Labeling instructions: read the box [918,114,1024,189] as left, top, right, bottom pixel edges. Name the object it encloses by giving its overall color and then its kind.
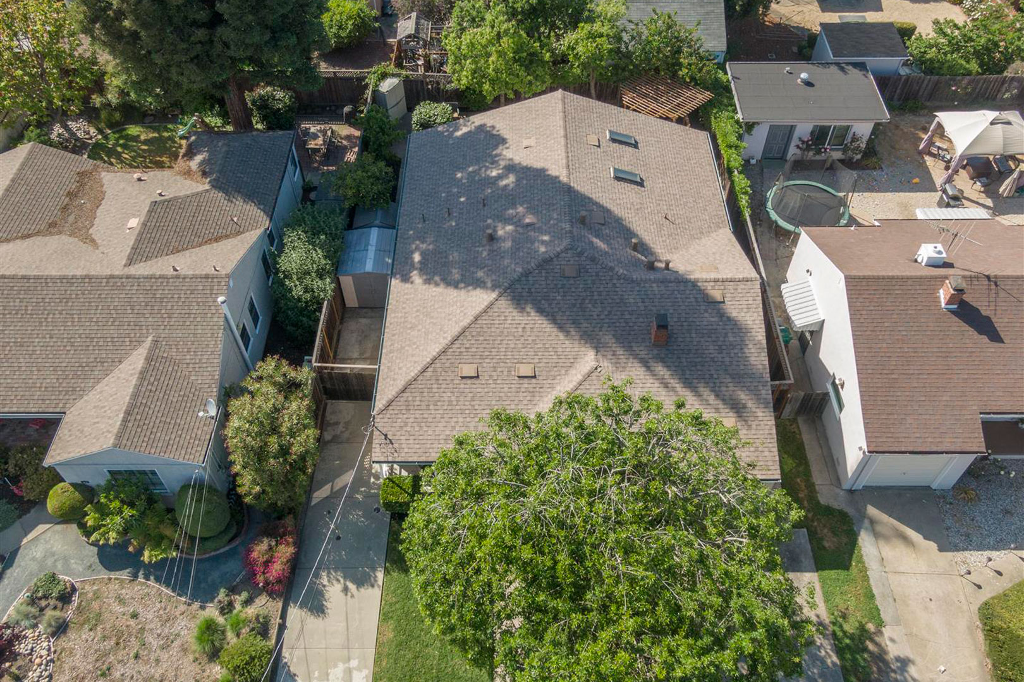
white gazebo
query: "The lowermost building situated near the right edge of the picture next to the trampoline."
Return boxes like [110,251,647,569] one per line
[784,218,1024,494]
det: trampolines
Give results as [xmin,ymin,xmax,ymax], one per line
[764,153,857,232]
